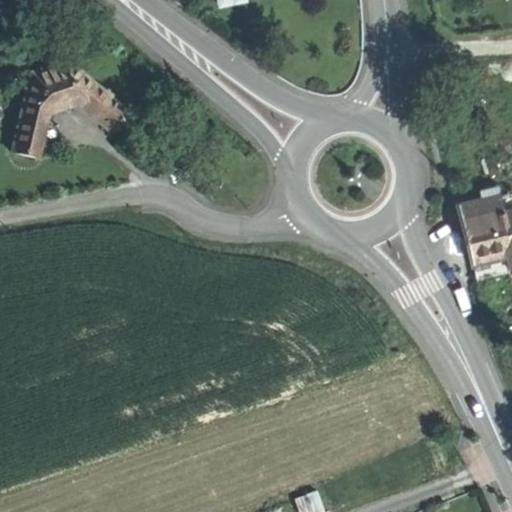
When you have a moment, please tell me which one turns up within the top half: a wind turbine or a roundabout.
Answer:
roundabout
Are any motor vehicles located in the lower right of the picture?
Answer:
Yes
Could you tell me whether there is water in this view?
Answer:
No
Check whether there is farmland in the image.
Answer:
Yes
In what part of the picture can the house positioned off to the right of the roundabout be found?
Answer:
right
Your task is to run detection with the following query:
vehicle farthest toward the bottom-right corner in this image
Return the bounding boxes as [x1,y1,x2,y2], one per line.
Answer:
[466,396,484,418]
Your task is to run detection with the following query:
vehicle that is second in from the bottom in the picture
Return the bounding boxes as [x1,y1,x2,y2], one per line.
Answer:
[454,288,474,317]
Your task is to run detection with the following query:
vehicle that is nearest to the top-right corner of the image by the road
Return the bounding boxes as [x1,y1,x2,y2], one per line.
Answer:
[430,225,452,243]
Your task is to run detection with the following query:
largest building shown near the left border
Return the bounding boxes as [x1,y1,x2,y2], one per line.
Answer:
[20,66,126,159]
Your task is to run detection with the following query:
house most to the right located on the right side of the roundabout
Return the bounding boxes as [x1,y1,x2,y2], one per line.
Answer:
[458,186,512,272]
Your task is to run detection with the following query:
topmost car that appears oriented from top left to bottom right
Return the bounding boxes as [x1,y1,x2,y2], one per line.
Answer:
[439,260,458,284]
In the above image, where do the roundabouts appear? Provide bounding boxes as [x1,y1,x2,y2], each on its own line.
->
[274,98,430,255]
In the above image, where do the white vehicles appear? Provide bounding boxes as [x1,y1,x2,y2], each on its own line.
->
[430,225,452,243]
[454,288,474,317]
[466,396,484,418]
